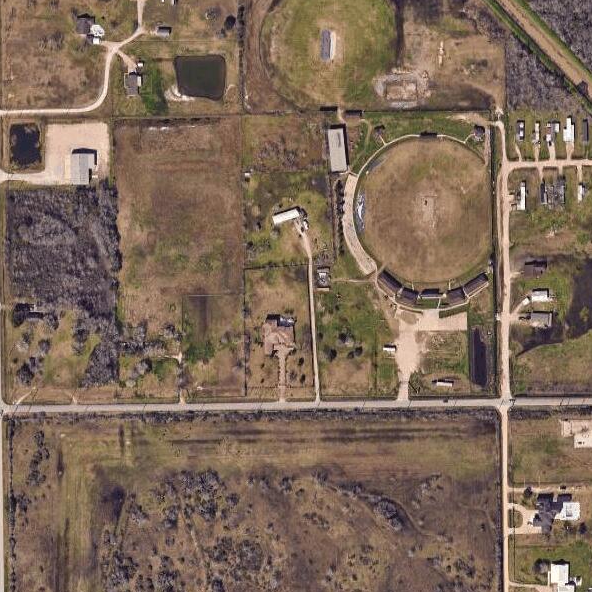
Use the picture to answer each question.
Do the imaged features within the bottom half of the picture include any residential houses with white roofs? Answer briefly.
Yes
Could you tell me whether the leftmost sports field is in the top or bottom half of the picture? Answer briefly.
top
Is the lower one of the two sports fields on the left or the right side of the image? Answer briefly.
right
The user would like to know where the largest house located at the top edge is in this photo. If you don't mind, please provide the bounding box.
[76,14,100,44]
